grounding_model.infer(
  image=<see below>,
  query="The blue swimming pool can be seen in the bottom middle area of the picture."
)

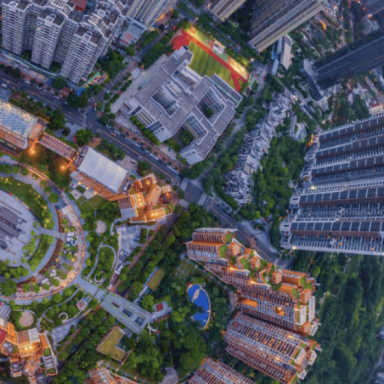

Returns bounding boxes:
[185,282,214,330]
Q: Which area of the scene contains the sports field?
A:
top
